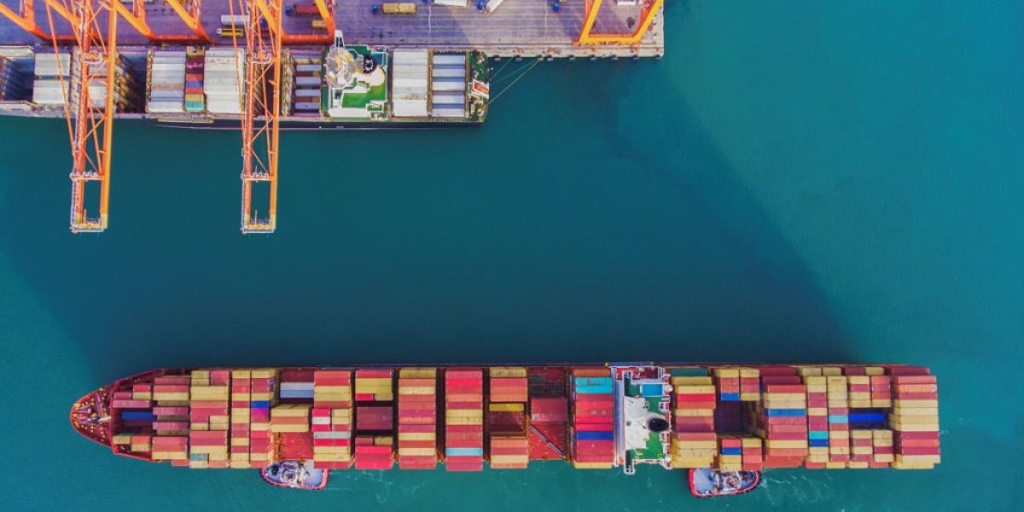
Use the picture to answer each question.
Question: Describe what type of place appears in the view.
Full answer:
This image shows a port.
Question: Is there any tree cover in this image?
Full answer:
No, there is no tree cover in the image.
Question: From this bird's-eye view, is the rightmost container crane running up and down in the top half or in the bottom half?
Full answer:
The rightmost container crane running up and down sits in the top half of the picture.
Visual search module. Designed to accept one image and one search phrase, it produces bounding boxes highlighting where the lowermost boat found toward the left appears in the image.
[260,461,331,489]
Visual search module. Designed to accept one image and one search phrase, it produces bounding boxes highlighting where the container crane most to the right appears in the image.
[578,0,667,45]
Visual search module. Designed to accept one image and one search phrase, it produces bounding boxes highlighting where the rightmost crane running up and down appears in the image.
[221,0,334,235]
